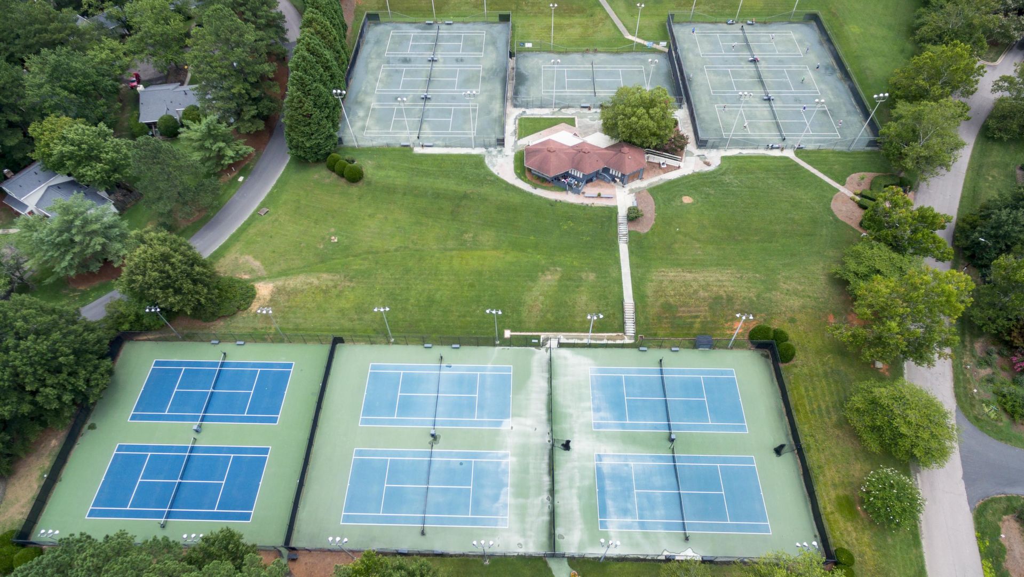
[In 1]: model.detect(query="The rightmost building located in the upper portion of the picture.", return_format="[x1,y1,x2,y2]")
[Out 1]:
[525,131,647,194]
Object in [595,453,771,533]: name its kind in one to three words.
tennis court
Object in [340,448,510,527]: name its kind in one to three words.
tennis court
